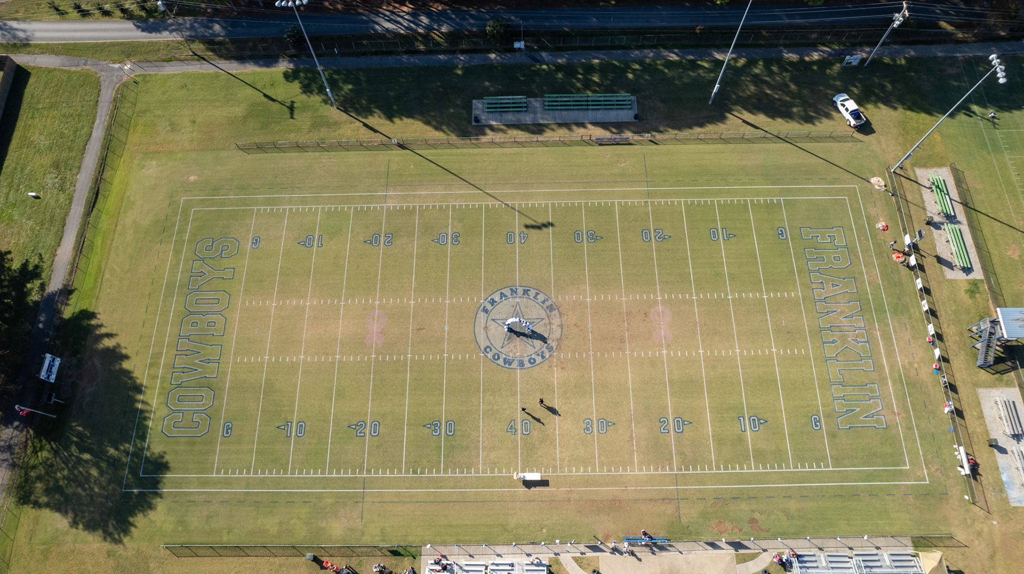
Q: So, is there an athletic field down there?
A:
Yes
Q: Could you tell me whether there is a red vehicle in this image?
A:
No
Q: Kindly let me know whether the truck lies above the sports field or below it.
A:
above it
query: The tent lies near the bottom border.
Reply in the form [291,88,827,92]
[915,549,949,574]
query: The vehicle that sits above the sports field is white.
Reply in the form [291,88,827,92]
[833,93,867,129]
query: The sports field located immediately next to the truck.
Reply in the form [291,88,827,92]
[71,144,978,547]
